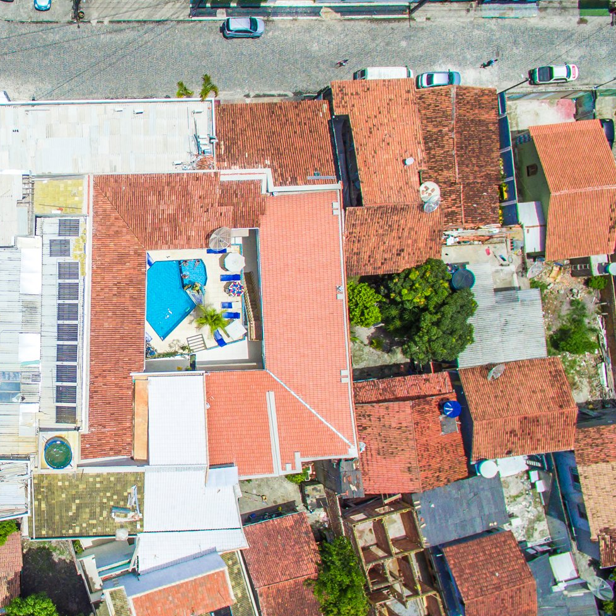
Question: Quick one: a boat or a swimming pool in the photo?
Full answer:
There is a swimming pool in the scene.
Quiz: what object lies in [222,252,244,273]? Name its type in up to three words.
umbrella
